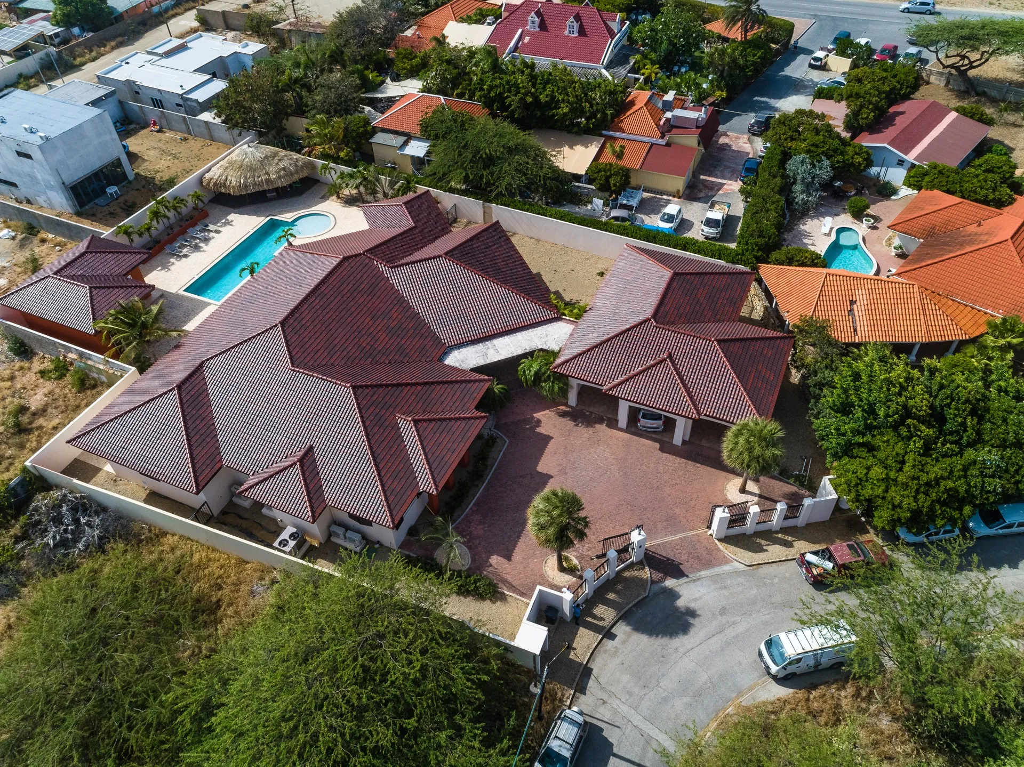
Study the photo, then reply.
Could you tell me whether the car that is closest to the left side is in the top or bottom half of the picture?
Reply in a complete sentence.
It is in the bottom half that the car that is closest to the left side appears.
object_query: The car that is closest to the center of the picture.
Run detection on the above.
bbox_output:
[637,409,668,432]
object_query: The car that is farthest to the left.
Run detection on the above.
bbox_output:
[528,708,589,767]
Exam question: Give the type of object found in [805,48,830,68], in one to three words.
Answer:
car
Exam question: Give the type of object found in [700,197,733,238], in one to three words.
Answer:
truck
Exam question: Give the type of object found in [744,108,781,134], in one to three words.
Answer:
car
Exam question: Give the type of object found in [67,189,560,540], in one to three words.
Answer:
house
